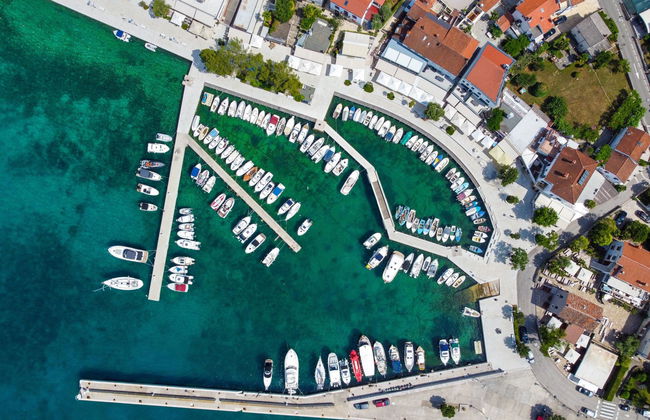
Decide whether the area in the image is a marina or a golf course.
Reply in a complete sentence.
What you see here is a marina.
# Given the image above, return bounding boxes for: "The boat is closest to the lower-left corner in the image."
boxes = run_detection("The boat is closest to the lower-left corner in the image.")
[95,277,145,293]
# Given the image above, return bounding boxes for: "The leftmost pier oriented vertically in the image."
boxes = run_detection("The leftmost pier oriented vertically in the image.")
[148,62,204,301]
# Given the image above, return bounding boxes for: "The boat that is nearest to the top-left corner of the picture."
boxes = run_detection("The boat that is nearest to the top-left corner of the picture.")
[112,29,133,43]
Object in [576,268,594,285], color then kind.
white umbrella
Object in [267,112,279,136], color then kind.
white boat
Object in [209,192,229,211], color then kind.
white boat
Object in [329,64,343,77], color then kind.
white umbrella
